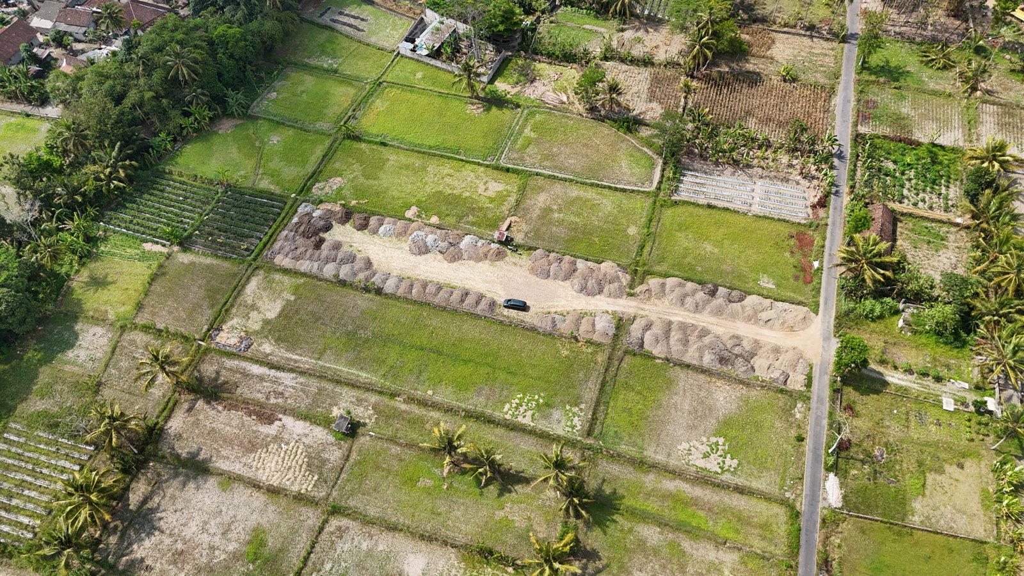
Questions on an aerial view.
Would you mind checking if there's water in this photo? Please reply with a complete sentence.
No, no water is visible.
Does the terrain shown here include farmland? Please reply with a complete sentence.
Yes, some farmland is visible.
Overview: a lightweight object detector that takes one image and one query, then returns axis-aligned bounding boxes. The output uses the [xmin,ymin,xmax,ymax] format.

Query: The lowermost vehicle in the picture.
[504,298,527,311]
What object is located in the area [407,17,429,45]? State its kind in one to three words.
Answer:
shed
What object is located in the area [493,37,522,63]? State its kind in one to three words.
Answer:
building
